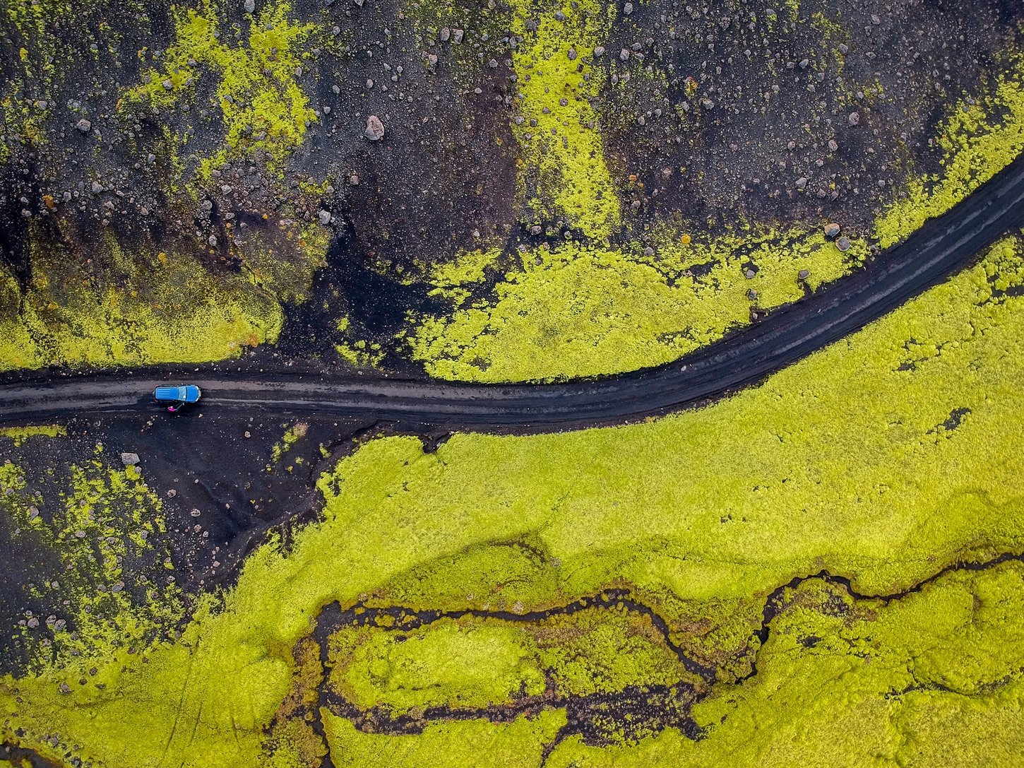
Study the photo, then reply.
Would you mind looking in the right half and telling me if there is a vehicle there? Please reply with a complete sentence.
No, in the right half there is no vehicle.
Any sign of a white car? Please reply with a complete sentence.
No, the photo shows no white car.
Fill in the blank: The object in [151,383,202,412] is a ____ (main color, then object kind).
blue car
